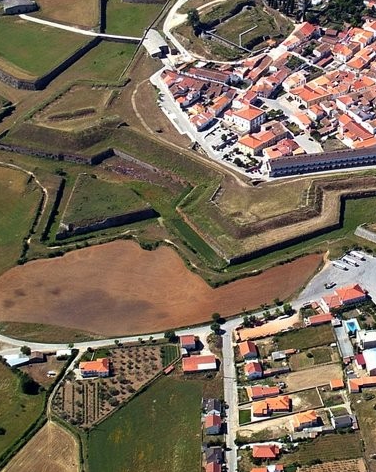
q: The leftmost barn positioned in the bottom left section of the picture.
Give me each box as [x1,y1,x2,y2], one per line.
[3,346,31,372]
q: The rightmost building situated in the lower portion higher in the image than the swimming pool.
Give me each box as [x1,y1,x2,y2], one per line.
[323,285,366,314]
